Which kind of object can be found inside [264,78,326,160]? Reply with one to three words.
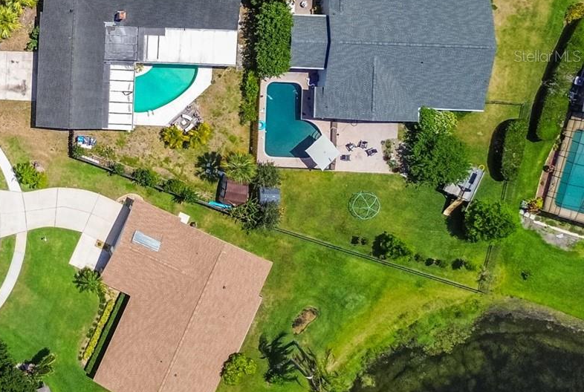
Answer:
swimming pool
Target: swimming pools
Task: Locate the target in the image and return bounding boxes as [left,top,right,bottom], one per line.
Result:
[264,78,326,160]
[132,64,202,117]
[551,118,584,217]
